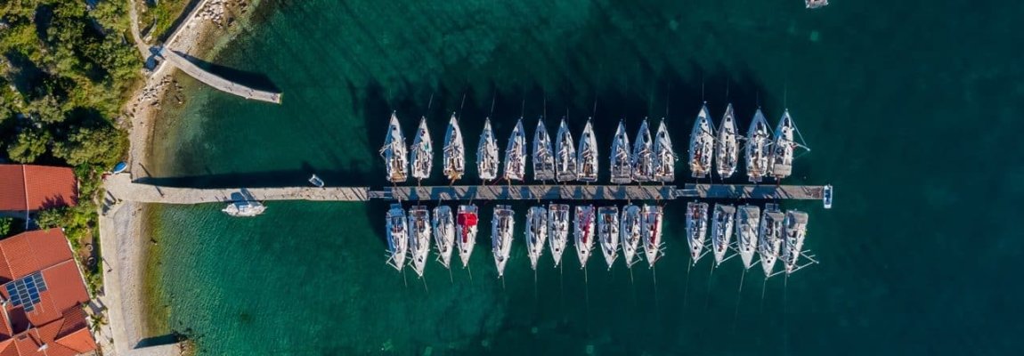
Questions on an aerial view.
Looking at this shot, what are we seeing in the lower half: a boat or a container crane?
boat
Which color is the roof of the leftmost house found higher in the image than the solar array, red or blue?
red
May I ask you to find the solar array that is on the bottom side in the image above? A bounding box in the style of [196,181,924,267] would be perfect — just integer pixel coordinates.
[6,272,47,309]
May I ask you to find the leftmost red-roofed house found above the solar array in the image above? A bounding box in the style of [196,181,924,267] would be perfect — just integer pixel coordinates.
[0,164,81,211]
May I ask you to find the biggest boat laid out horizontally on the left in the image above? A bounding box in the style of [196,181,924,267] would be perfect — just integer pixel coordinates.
[220,201,267,217]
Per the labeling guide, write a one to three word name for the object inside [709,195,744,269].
boat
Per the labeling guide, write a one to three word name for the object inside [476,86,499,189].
boat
